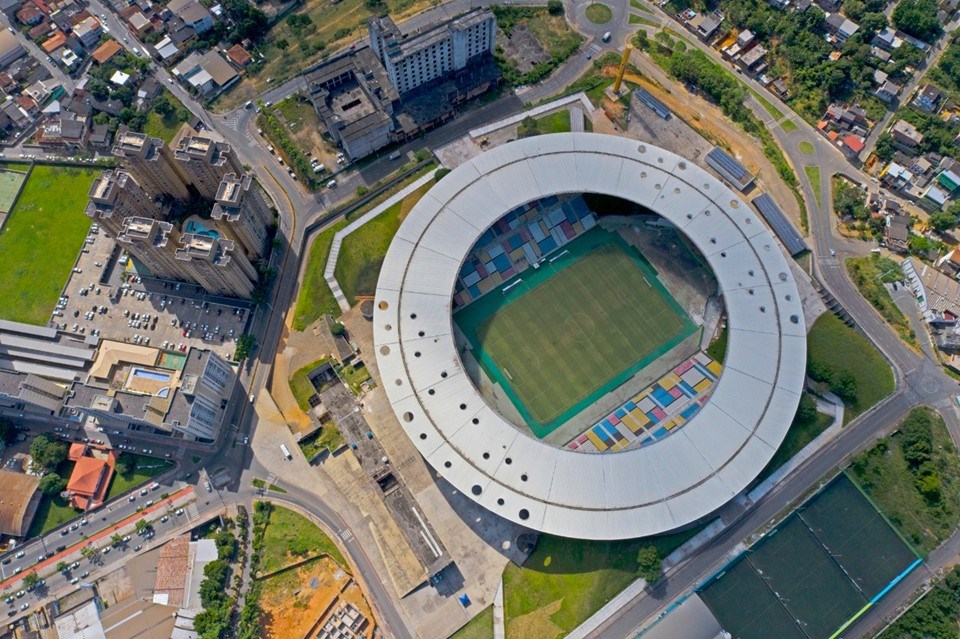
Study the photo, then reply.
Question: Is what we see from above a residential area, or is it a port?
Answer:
residential area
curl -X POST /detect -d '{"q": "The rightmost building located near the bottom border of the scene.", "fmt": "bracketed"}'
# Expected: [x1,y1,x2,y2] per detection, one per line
[636,589,732,639]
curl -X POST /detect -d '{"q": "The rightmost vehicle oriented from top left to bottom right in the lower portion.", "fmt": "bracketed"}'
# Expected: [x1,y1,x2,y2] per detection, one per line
[278,442,292,460]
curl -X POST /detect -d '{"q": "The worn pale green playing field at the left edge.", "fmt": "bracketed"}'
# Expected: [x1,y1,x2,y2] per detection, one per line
[0,170,23,212]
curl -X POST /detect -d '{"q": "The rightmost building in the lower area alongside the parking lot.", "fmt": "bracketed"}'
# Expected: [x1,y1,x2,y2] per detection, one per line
[317,379,453,576]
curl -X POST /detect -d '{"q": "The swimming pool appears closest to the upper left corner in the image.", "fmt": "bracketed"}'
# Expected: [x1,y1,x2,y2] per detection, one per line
[187,213,238,250]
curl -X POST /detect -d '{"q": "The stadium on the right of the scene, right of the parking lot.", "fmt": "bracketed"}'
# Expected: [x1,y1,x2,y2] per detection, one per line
[374,129,806,539]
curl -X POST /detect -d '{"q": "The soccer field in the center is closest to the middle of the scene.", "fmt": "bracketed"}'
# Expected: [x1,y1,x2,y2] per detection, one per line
[451,224,701,441]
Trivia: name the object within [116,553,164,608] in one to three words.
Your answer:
shed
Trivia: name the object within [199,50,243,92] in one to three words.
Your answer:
house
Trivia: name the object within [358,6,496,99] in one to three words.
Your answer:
building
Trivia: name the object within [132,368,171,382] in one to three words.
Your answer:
swimming pool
